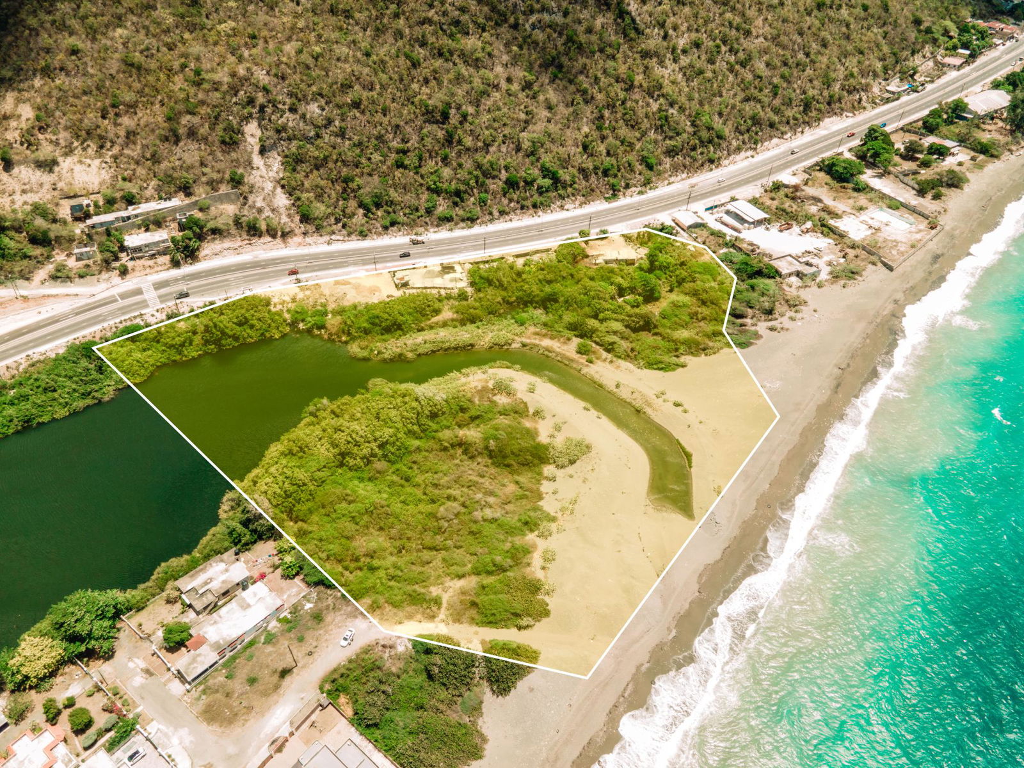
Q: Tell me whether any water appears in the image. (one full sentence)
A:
Yes, the picture does contain water.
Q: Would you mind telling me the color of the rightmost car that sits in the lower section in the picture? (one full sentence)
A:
The color of the rightmost car that sits in the lower section is white.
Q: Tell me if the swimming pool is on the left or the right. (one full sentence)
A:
You can find the swimming pool on the right side of the picture.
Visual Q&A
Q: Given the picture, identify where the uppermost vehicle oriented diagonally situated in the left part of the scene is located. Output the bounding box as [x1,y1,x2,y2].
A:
[336,622,359,649]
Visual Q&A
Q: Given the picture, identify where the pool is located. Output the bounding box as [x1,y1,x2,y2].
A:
[865,207,918,231]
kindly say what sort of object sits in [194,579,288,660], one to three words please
house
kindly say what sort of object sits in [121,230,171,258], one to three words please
house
